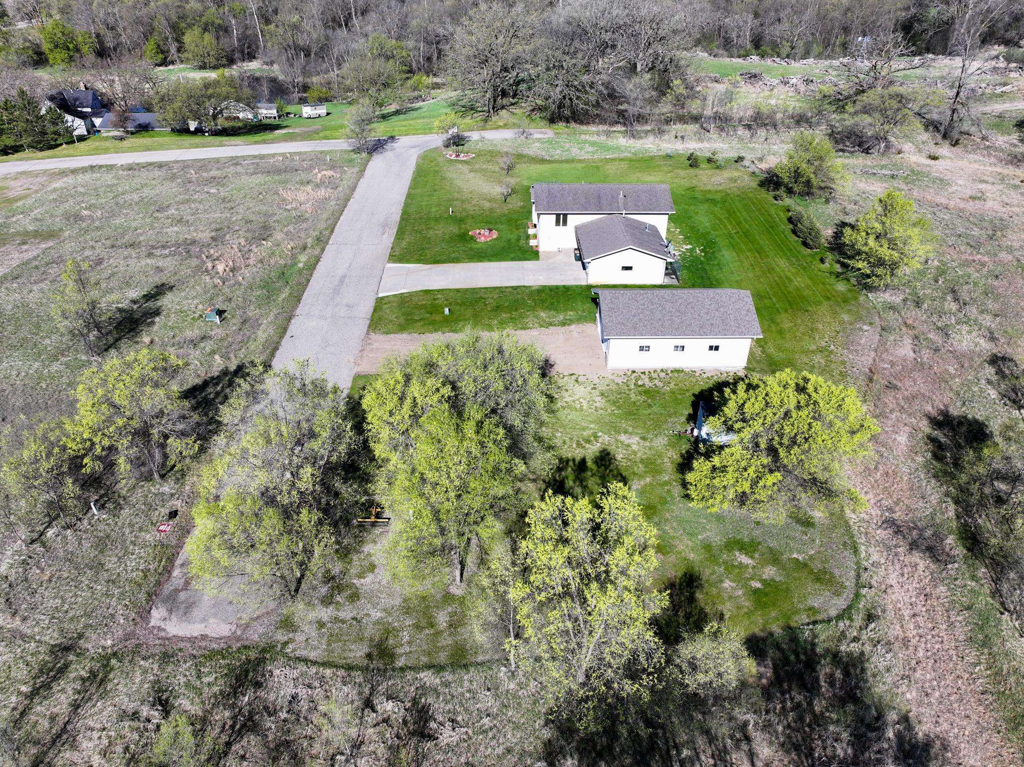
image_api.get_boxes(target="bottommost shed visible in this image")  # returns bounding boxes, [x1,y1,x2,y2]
[591,289,764,368]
